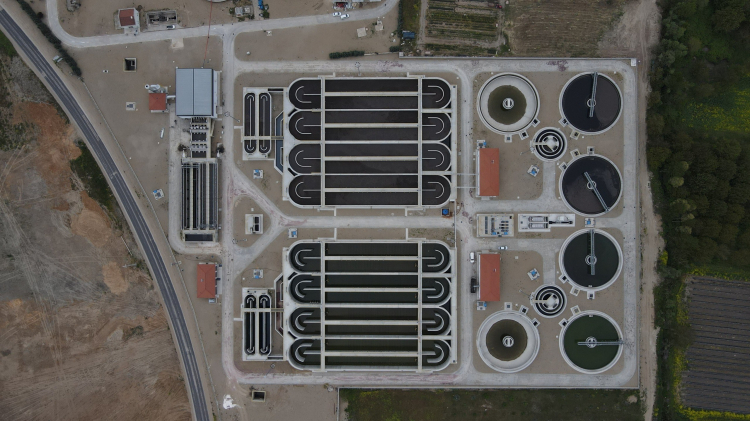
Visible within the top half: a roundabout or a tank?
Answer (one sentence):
The one visible within the top half is a tank.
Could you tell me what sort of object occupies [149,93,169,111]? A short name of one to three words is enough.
building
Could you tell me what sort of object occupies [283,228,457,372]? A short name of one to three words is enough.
storage tank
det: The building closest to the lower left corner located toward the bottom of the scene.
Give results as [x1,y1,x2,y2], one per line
[197,264,218,299]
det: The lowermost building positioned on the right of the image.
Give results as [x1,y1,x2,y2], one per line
[478,253,500,301]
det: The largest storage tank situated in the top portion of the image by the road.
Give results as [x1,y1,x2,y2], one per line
[283,71,457,216]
